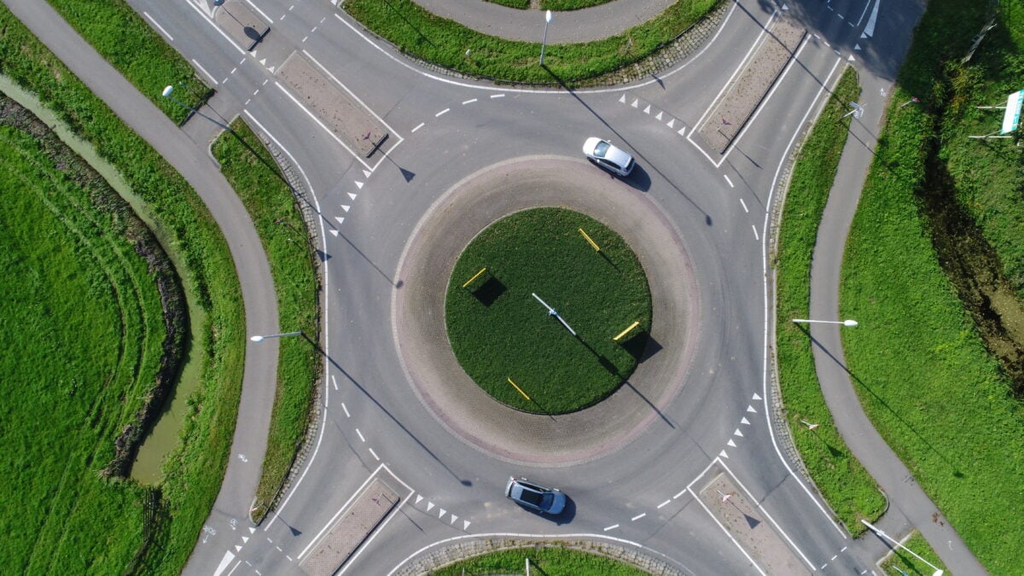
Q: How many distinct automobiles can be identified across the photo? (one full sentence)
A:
There are 2 automobiles in the image.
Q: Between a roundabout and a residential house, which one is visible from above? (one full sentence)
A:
It is a roundabout that can be seen here.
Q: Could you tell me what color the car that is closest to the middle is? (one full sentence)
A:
The car that is closest to the middle looks white in the image.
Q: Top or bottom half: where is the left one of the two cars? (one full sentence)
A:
The bottom half of the photo is where the left one of the two cars is.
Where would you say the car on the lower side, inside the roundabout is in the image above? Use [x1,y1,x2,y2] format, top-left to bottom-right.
[505,476,567,514]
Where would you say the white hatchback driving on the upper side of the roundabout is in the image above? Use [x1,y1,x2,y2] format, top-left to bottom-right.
[581,138,637,176]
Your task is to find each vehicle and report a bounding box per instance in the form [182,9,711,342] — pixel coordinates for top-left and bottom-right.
[581,138,637,176]
[505,476,567,514]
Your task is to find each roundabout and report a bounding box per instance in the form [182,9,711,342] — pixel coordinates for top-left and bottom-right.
[329,93,764,530]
